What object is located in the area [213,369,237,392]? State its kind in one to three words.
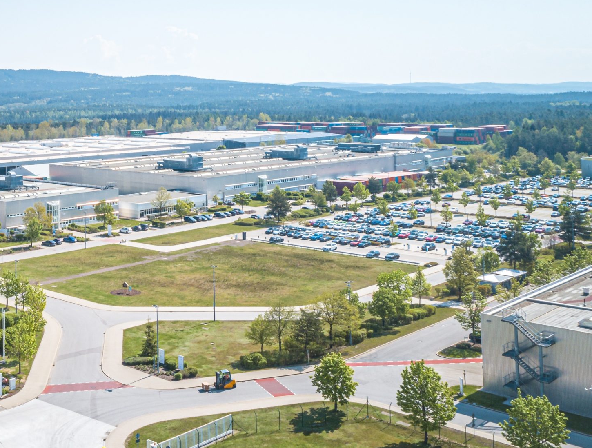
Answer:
work vehicle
